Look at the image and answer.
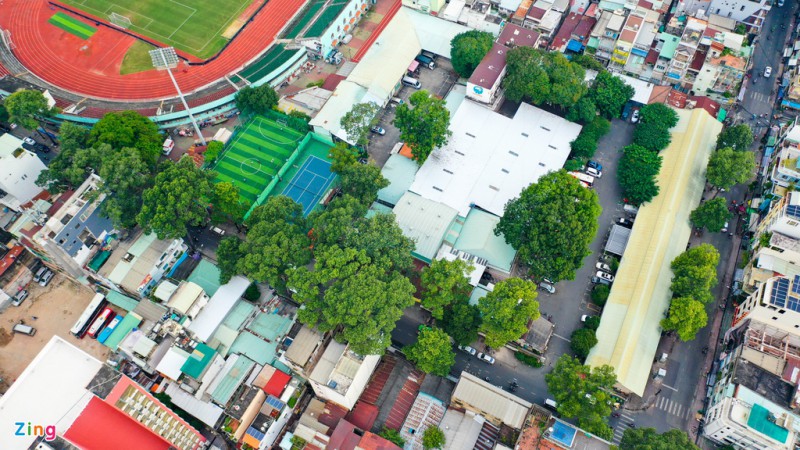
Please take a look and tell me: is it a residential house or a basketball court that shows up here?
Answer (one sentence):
There is a residential house in the scene.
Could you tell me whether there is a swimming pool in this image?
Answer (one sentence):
Yes, a swimming pool appears in the view.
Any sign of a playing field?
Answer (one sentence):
Yes, you can see a playing field in this photo.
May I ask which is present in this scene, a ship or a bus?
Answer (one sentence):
I can see a bus in this picture.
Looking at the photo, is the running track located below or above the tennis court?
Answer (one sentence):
In the image, the running track sits above the tennis court.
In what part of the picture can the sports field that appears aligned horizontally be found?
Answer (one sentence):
The sports field that appears aligned horizontally is located in the top left region of the scene.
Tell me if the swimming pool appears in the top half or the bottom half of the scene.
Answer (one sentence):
The swimming pool sits in the bottom half of the picture.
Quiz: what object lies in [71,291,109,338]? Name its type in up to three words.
bus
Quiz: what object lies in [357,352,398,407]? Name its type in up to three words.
shed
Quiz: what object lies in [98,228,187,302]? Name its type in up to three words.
house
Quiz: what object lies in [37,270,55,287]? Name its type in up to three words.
car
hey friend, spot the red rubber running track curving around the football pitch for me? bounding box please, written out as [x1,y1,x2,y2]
[3,0,308,100]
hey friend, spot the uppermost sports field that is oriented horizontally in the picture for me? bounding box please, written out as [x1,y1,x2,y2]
[71,0,262,75]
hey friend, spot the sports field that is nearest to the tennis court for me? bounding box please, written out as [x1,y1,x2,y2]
[195,116,309,215]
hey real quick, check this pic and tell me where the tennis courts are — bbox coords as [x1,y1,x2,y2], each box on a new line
[251,140,356,234]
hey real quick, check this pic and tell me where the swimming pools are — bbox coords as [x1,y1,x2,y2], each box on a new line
[545,417,577,449]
